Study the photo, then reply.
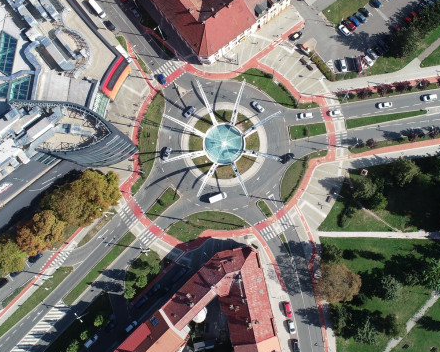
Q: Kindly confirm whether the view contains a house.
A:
Yes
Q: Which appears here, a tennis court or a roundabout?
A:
roundabout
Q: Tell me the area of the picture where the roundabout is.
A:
center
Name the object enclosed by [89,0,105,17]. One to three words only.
vehicle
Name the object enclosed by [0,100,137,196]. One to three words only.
building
